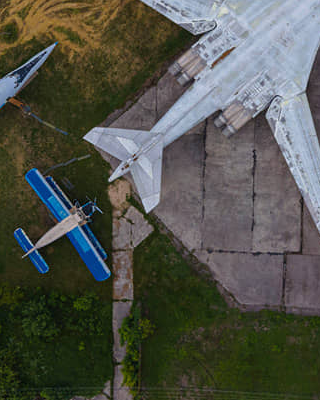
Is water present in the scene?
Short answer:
No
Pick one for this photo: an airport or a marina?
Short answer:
airport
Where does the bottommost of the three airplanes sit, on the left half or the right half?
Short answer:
left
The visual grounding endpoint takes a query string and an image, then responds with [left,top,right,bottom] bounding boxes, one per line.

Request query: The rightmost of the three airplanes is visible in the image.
[83,0,320,234]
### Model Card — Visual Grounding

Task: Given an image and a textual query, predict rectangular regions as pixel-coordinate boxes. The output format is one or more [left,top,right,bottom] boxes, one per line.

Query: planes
[83,0,320,234]
[0,43,57,109]
[14,169,110,281]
